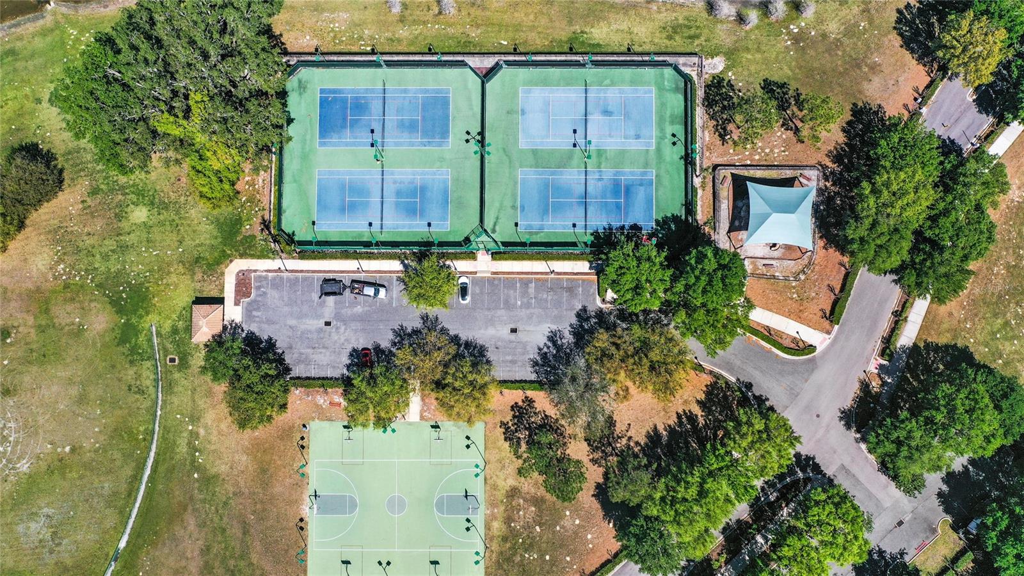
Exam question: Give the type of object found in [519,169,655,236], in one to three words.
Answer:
tennis court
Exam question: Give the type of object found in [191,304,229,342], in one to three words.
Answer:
gazebo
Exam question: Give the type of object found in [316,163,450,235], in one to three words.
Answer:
tennis court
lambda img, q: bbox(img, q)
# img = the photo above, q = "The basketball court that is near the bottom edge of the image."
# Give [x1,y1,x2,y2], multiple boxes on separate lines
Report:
[308,422,486,576]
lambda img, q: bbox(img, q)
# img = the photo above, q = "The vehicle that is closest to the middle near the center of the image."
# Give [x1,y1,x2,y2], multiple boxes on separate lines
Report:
[457,276,470,303]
